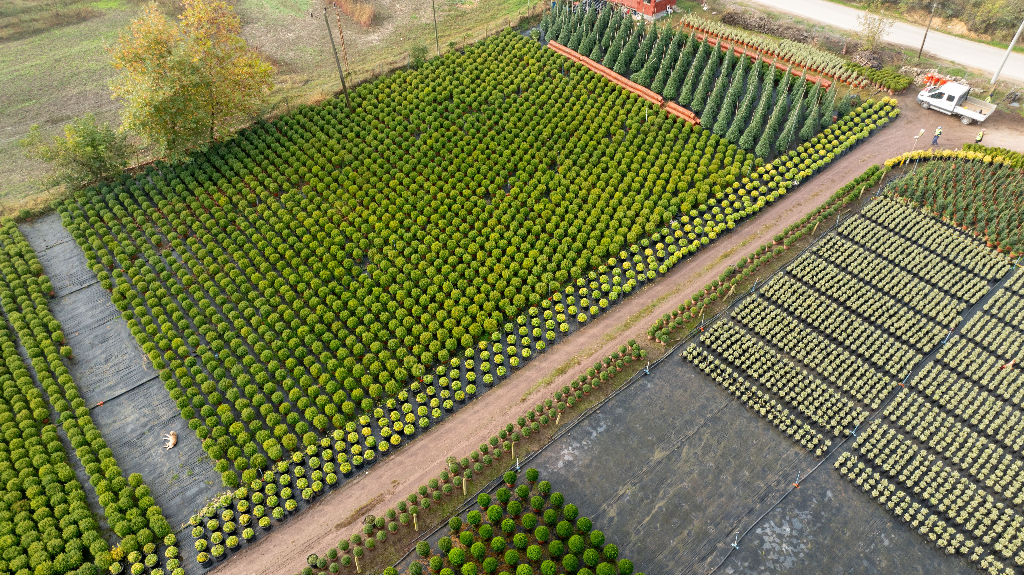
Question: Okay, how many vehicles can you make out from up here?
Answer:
one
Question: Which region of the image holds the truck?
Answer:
top right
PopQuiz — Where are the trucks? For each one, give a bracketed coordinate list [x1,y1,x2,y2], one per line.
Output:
[915,85,1001,125]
